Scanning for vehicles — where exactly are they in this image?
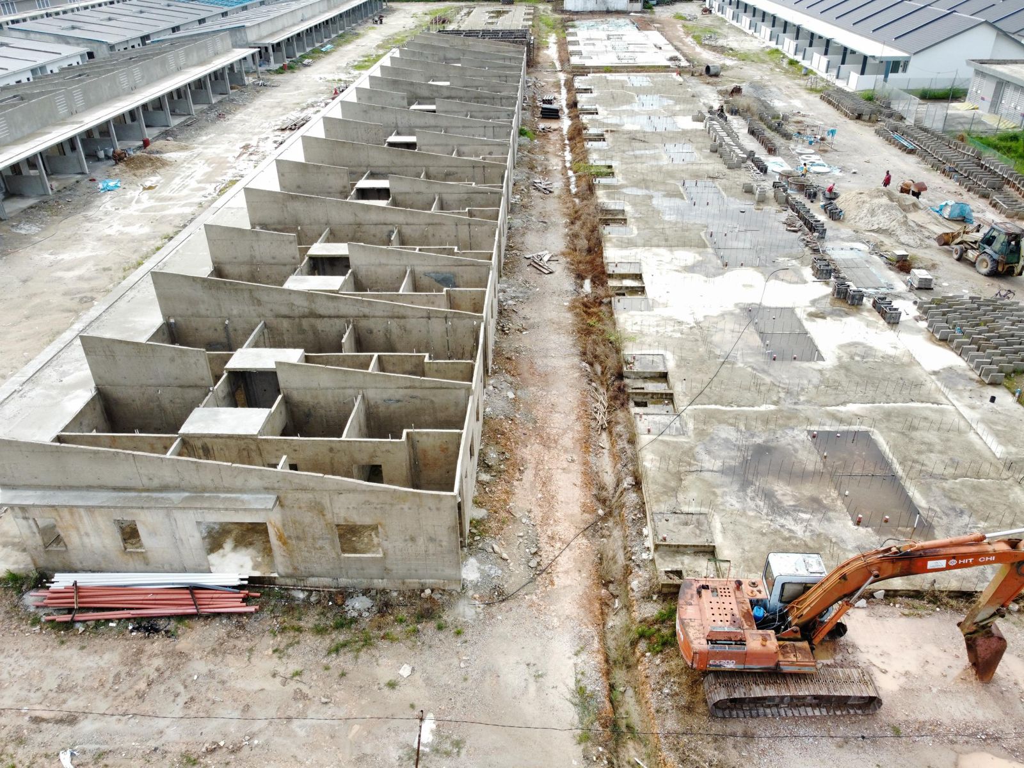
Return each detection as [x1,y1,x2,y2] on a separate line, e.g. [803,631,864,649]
[930,223,1024,281]
[671,522,1024,720]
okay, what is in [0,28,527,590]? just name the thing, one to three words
building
